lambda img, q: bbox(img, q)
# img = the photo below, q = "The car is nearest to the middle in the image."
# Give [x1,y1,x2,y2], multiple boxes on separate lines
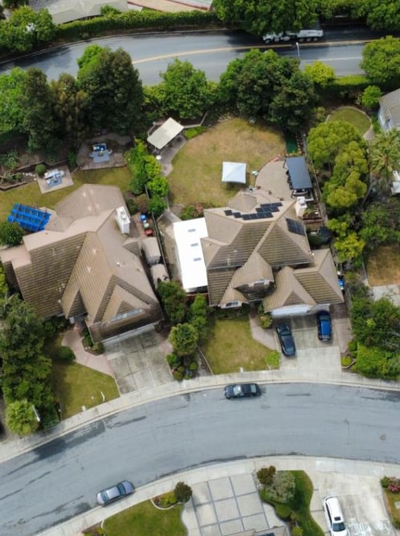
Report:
[277,324,295,357]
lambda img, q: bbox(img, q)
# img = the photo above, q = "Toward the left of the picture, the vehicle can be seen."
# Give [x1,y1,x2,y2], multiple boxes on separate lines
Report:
[95,480,137,506]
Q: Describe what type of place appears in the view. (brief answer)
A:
residential area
